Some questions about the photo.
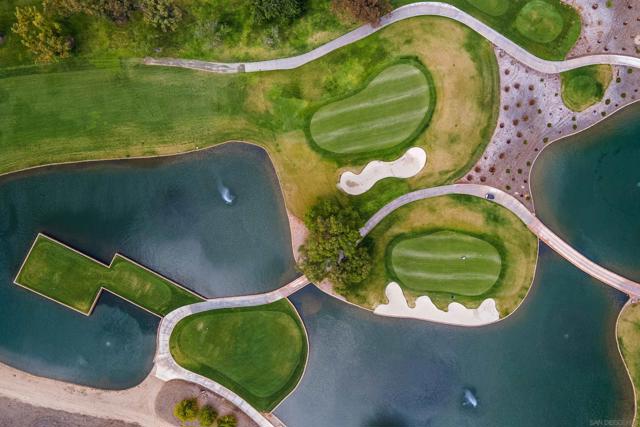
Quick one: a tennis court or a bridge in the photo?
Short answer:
bridge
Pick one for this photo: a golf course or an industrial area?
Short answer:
golf course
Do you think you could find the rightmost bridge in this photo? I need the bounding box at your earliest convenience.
[533,214,638,298]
